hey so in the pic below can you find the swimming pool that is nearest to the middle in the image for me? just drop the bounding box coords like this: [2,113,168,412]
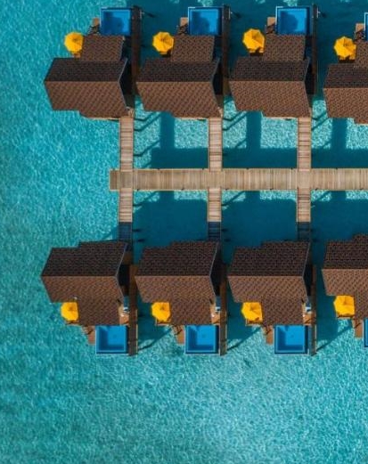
[182,322,219,356]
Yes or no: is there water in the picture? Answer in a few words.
Yes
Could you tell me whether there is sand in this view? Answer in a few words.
No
